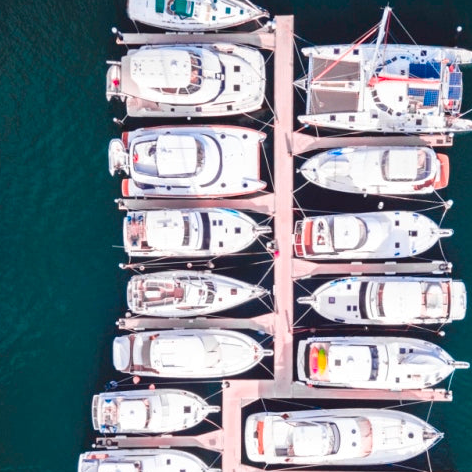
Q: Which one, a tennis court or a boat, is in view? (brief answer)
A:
boat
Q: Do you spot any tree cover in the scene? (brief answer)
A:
No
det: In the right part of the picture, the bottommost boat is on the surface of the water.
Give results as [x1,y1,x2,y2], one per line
[245,398,447,472]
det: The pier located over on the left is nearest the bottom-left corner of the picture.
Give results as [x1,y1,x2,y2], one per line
[95,429,223,453]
